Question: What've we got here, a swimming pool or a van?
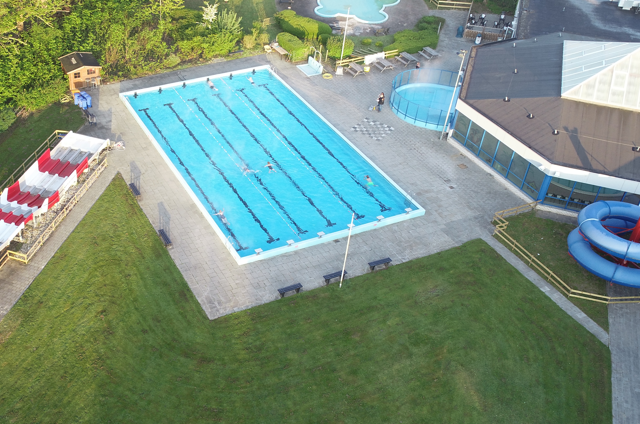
swimming pool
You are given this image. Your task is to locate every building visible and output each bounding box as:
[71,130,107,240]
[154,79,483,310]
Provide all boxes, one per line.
[449,30,640,226]
[58,50,104,90]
